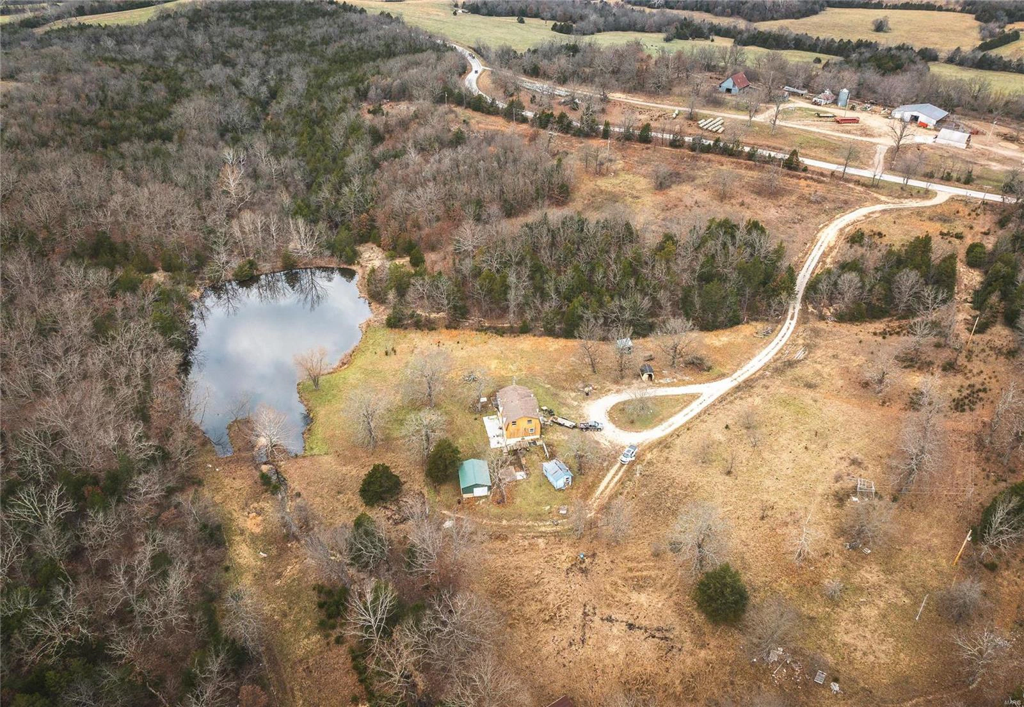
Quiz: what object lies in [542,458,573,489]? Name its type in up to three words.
shed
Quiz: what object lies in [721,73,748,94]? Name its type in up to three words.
barn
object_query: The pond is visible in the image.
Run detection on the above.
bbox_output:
[184,267,371,465]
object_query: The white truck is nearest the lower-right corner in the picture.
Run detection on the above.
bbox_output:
[617,442,640,464]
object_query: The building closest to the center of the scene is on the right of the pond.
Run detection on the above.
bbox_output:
[489,382,543,453]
